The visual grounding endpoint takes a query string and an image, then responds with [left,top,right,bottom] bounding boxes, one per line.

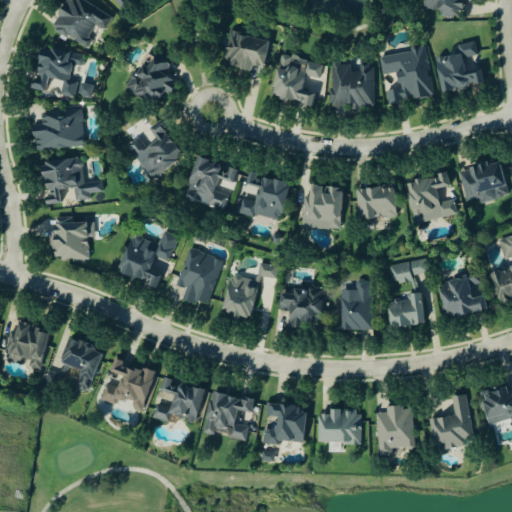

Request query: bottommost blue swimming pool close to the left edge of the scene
[4,364,28,378]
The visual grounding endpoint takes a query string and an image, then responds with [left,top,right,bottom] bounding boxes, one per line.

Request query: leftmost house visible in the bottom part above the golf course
[2,320,49,370]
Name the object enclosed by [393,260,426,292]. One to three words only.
building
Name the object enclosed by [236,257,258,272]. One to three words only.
swimming pool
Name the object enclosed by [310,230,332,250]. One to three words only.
swimming pool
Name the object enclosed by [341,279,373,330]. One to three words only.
house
